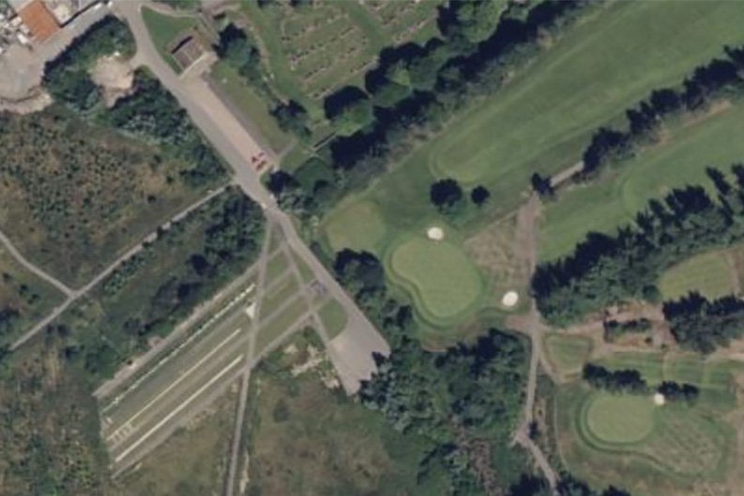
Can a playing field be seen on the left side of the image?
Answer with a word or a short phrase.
Yes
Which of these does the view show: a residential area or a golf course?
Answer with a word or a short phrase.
golf course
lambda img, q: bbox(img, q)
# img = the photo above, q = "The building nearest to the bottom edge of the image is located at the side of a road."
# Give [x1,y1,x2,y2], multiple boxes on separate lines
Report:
[168,35,203,69]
